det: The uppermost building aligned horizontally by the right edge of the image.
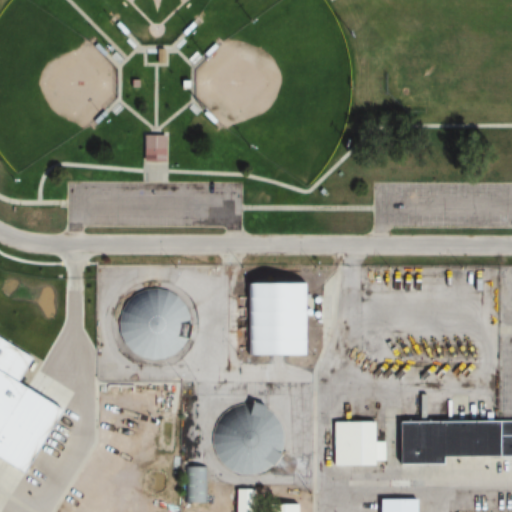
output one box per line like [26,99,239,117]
[402,421,503,464]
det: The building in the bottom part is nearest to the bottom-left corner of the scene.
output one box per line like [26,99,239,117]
[0,370,60,474]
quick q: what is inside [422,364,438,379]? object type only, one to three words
vehicle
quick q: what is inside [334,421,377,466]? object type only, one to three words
building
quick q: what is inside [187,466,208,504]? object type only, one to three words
shed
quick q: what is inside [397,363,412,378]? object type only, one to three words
vehicle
